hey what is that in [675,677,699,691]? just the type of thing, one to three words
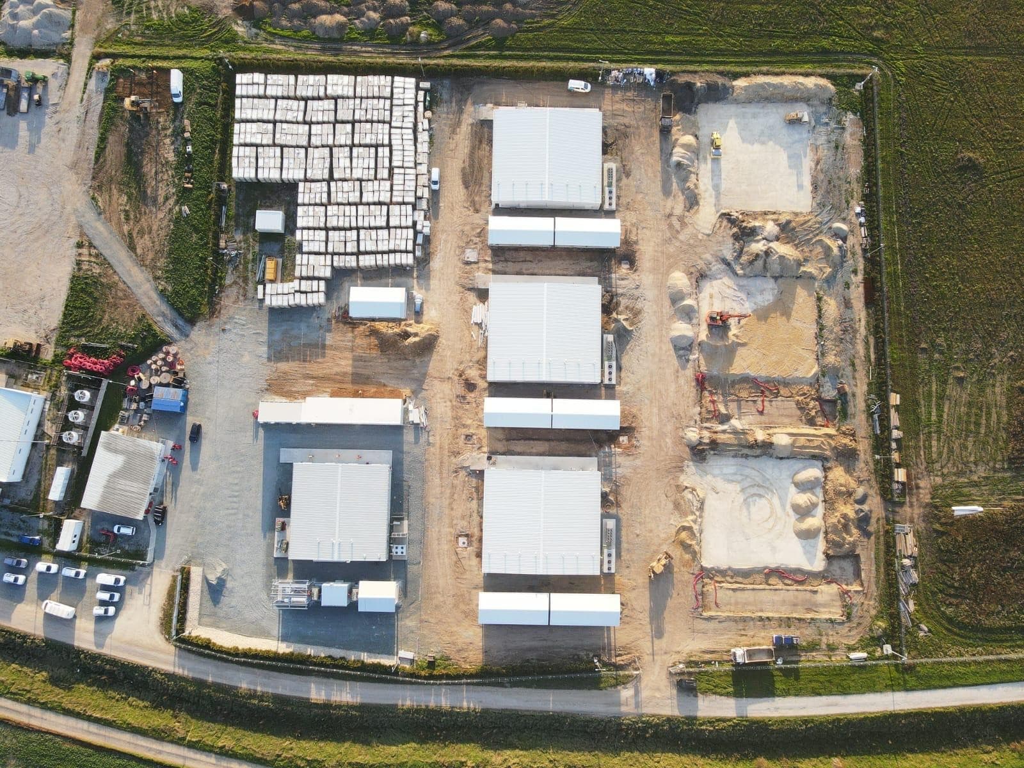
car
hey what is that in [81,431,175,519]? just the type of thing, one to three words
shed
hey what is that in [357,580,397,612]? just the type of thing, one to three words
building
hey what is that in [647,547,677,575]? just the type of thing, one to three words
work vehicle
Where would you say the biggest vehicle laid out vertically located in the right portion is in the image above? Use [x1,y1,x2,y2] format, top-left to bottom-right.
[659,92,675,133]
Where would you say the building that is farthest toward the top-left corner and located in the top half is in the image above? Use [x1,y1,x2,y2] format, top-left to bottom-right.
[256,211,287,235]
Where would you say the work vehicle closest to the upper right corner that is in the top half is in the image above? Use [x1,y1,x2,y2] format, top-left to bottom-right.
[782,111,808,126]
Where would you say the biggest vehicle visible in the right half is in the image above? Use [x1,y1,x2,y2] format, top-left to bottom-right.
[729,644,778,666]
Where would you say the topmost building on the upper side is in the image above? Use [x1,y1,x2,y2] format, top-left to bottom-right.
[491,109,603,210]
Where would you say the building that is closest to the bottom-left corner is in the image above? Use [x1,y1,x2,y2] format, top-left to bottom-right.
[58,518,85,550]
